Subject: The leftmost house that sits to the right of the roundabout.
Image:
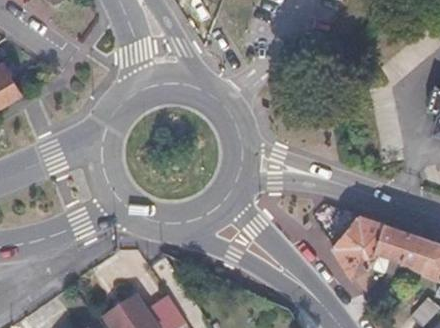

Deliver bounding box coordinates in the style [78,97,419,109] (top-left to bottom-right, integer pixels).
[334,216,384,288]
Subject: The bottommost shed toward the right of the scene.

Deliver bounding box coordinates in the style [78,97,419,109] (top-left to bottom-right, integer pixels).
[412,298,440,328]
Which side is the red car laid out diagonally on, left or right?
right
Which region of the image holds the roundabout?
center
